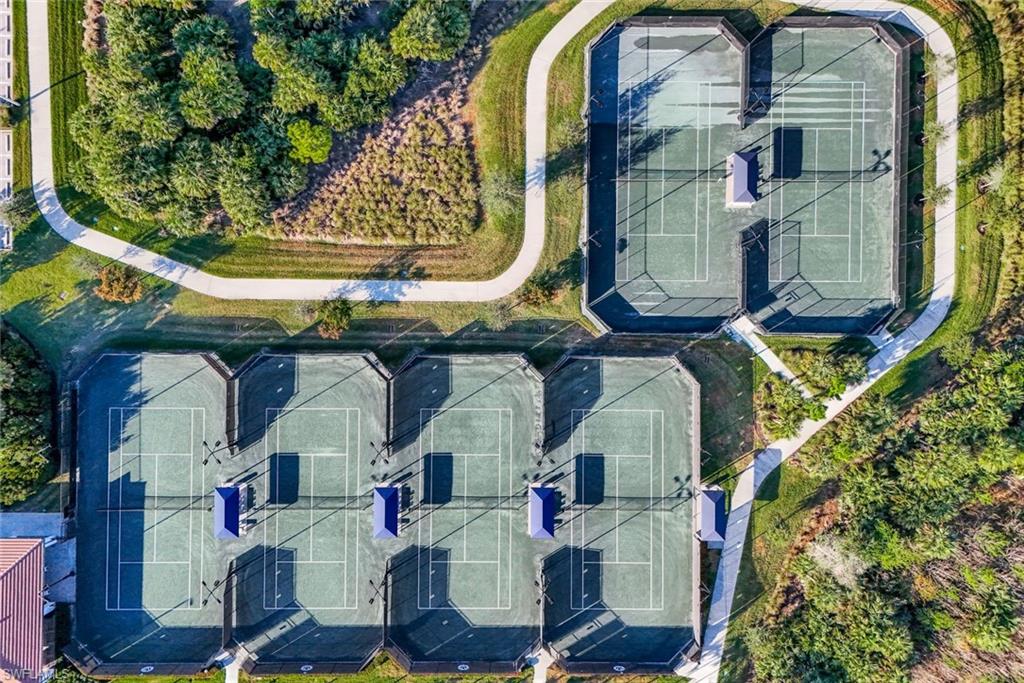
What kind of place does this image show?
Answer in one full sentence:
The area seen from above is a sports ground.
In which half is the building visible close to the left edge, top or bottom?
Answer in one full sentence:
The building visible close to the left edge sits in the bottom half of the picture.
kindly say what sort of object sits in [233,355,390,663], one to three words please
tennis court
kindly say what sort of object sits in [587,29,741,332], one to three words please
tennis court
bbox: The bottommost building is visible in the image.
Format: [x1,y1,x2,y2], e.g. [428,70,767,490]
[0,533,62,683]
